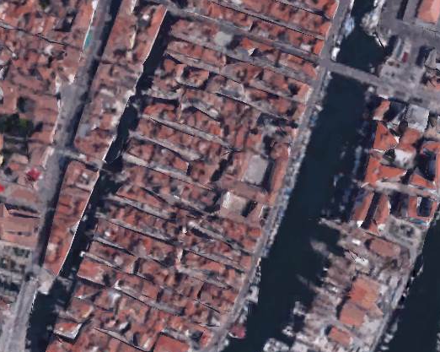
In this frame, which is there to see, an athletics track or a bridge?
bridge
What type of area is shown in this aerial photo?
residential area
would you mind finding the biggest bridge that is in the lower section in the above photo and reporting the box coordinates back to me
[14,274,41,309]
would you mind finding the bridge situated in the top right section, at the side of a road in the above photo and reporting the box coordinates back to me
[323,56,376,87]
